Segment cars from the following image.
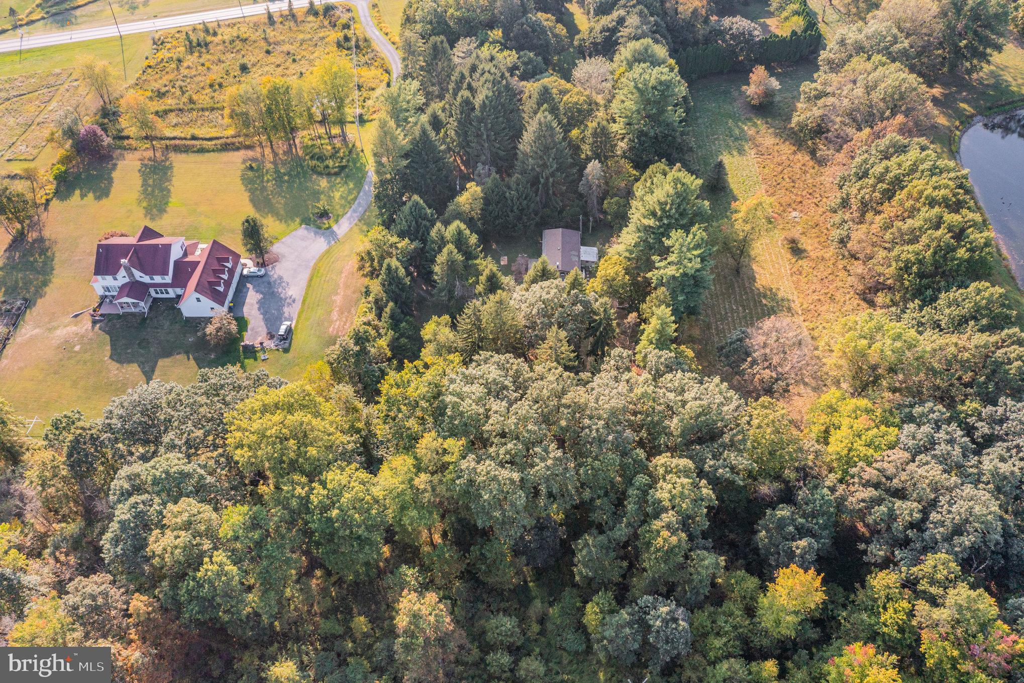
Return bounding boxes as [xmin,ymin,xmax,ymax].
[242,268,264,278]
[276,324,293,343]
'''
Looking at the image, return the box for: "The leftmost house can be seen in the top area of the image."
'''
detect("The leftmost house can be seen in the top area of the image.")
[88,222,244,319]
